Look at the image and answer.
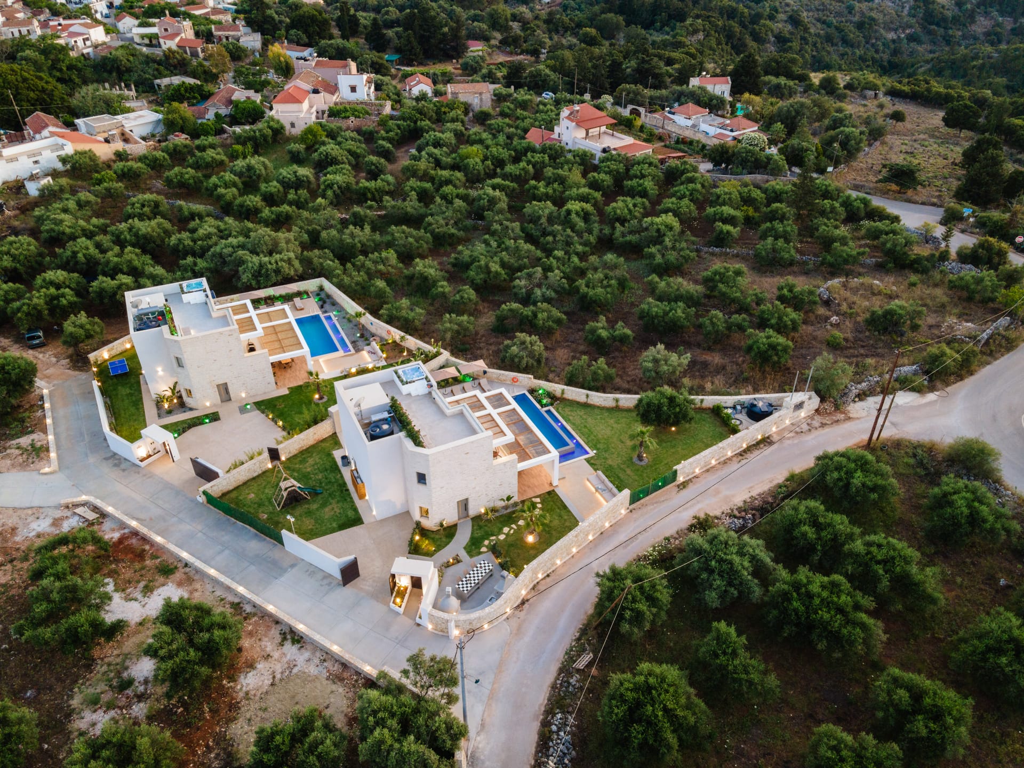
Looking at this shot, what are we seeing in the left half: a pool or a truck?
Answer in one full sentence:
What appears in the left half is a pool.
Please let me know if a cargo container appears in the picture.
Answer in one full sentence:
No, the picture doesn't show any cargo container.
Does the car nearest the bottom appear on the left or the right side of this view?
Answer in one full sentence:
The car nearest the bottom sits on the left side.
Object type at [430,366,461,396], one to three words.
umbrella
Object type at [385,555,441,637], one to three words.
building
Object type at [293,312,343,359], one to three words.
swimming pool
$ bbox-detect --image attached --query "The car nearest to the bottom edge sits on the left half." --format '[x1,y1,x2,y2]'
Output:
[22,322,45,345]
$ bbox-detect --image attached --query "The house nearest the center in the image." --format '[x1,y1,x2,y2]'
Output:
[335,361,558,527]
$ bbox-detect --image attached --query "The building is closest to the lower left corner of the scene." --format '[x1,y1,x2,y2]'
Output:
[131,423,189,468]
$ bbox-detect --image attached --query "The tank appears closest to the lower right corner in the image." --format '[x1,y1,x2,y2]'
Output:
[745,397,778,426]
